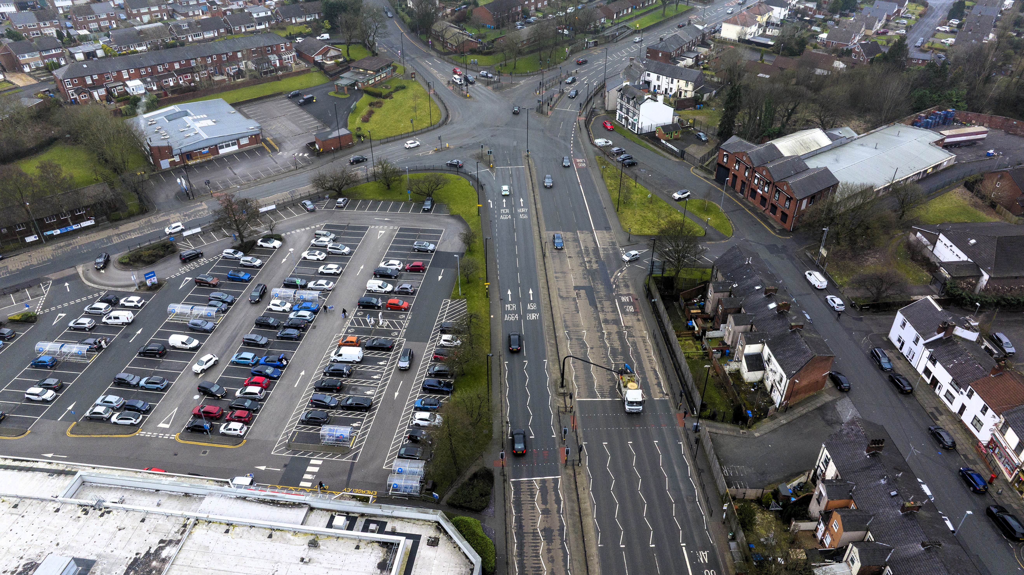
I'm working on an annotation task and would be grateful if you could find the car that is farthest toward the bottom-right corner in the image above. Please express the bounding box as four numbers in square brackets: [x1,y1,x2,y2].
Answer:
[988,508,1024,541]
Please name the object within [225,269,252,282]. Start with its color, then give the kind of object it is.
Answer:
blue vehicle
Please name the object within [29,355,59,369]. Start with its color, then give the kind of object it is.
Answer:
blue car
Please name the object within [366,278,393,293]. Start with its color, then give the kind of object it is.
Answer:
white vehicle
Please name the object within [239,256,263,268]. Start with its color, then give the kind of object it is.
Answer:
white vehicle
